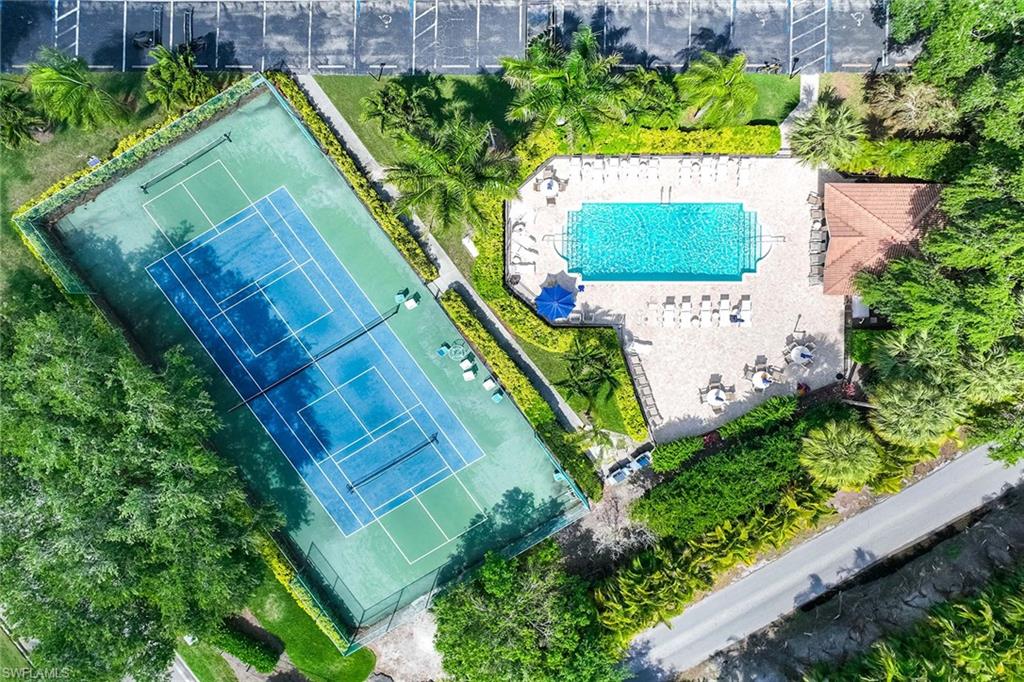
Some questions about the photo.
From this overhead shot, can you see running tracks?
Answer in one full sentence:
No, I find no running track anywhere in the image.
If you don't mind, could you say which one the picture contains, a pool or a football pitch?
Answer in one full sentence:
The image shows a pool.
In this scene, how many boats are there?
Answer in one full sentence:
There are no boats in this view.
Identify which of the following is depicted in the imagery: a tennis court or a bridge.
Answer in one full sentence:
The one in the frame is a tennis court.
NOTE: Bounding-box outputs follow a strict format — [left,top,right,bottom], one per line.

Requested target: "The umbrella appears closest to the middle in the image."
[535,282,577,324]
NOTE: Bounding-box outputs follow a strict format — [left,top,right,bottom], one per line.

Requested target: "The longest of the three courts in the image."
[58,92,576,633]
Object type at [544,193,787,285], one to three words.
swimming pool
